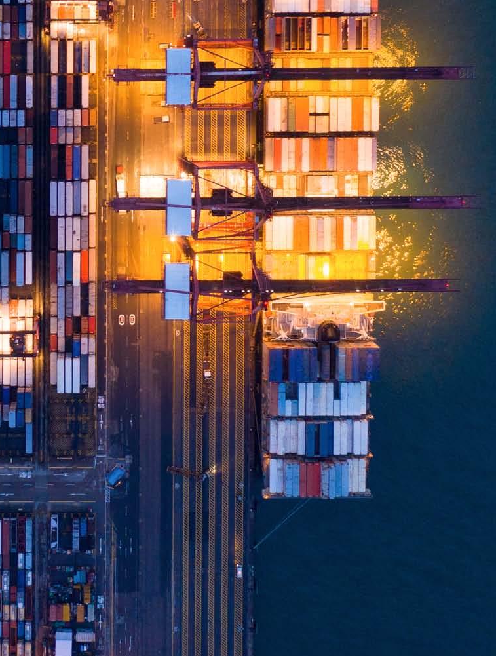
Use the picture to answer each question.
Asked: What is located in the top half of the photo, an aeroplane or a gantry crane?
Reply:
gantry crane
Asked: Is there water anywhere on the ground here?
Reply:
Yes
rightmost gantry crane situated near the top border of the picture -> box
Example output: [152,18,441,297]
[108,28,476,118]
